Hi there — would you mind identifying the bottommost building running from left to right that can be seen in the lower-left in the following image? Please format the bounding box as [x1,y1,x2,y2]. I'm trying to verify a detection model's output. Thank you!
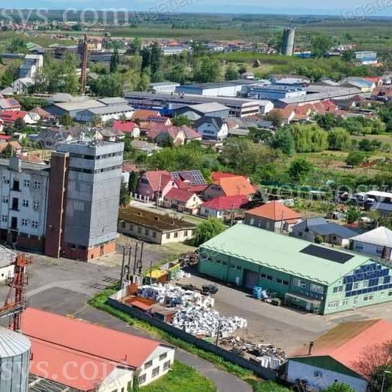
[0,307,180,392]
